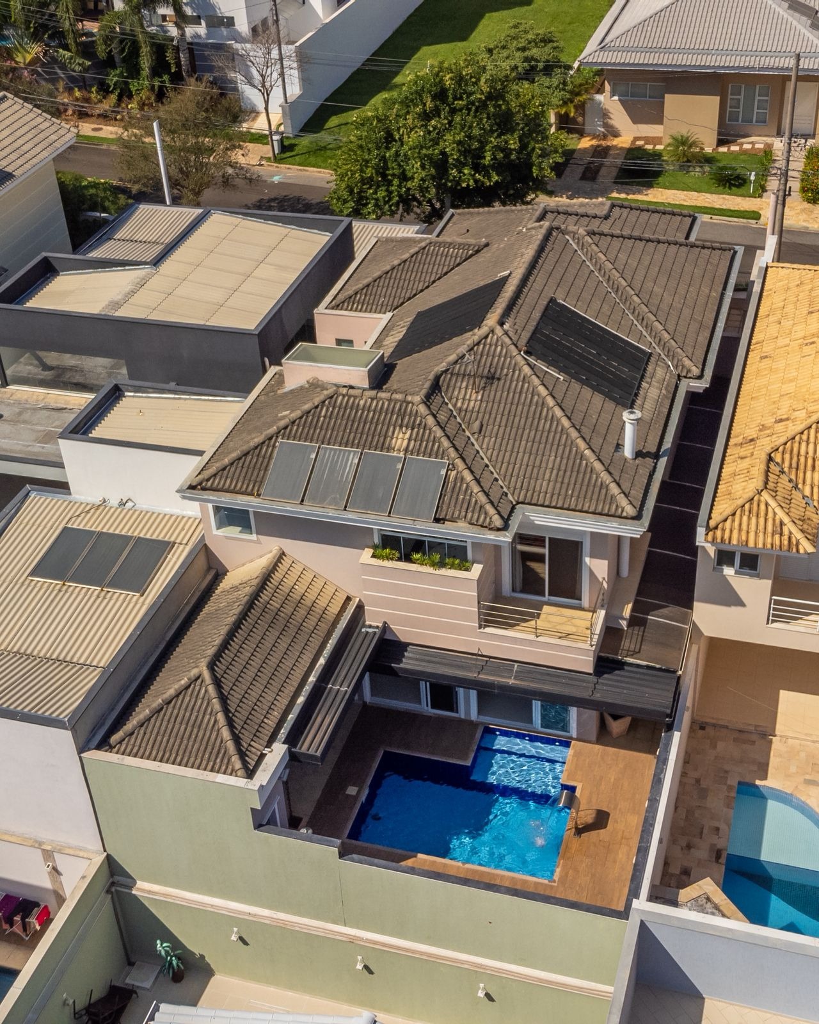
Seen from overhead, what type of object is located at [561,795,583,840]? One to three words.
fountain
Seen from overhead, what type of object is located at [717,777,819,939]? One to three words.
swimming pool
